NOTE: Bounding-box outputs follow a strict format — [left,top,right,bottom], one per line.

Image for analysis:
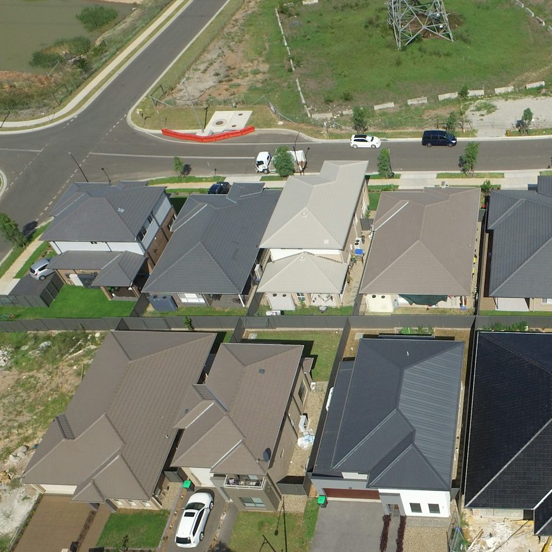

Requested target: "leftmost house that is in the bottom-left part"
[19,330,217,509]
